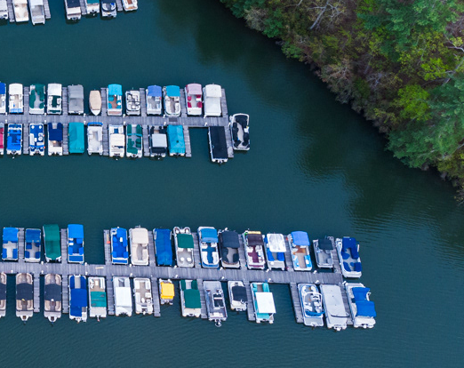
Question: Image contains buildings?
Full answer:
No, no building can be seen from above.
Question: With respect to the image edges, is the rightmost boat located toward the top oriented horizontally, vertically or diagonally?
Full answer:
In this picture, the rightmost boat located toward the top lies vertically.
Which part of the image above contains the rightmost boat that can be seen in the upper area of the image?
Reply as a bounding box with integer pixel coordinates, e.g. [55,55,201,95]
[232,113,252,150]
